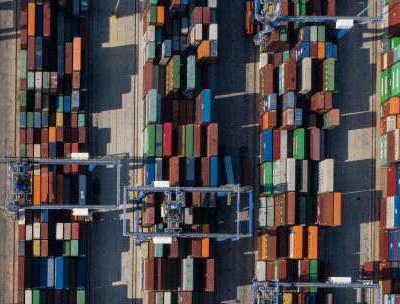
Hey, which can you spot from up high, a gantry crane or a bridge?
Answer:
gantry crane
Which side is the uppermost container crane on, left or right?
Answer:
right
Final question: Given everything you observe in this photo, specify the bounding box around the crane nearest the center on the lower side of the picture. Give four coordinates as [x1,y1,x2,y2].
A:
[123,177,252,250]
